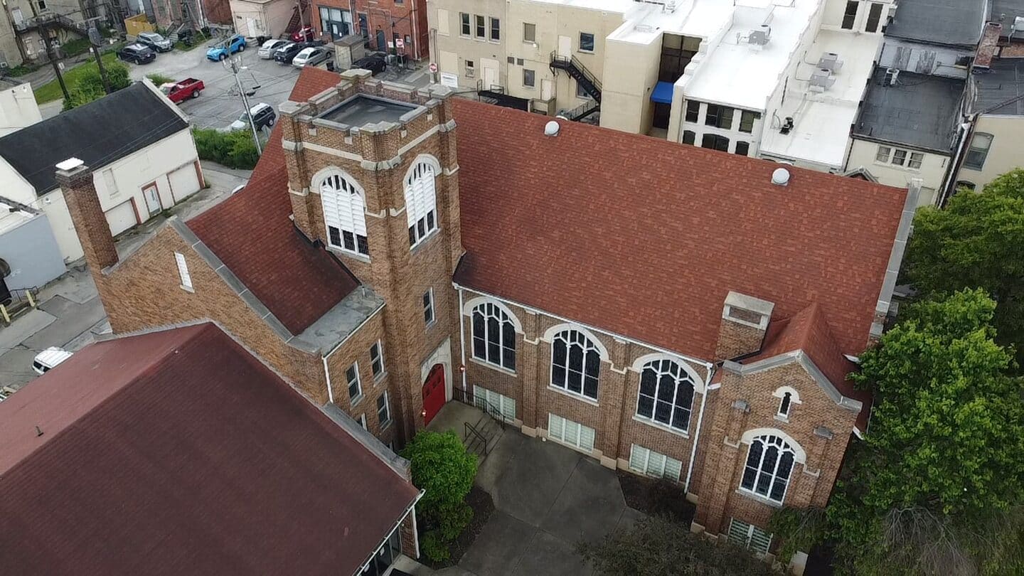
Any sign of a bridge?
No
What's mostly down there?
buildings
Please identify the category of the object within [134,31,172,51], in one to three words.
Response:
car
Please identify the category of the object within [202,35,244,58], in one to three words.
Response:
car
